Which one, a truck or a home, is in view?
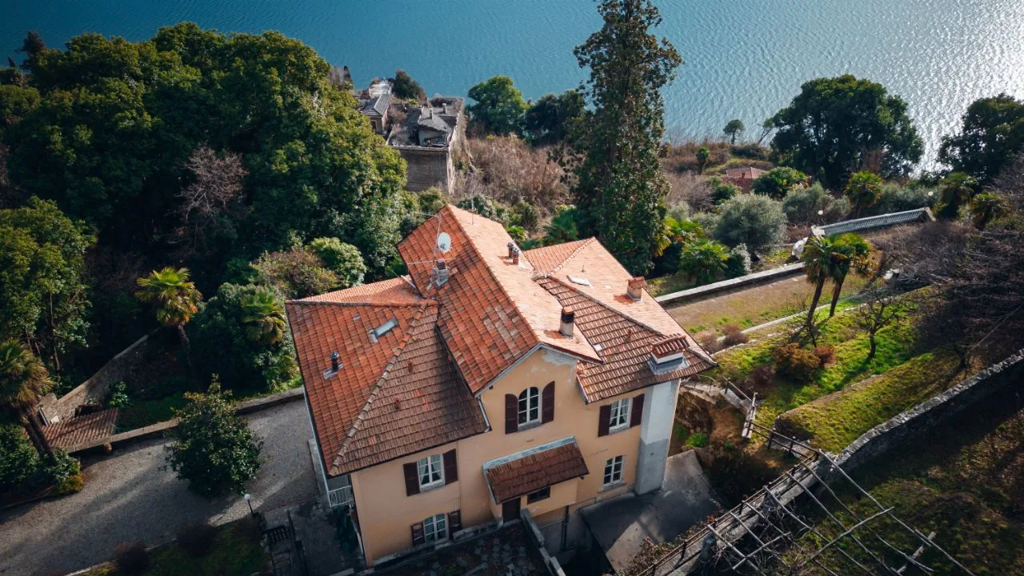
home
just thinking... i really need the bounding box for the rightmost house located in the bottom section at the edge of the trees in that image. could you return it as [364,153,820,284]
[284,194,720,566]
